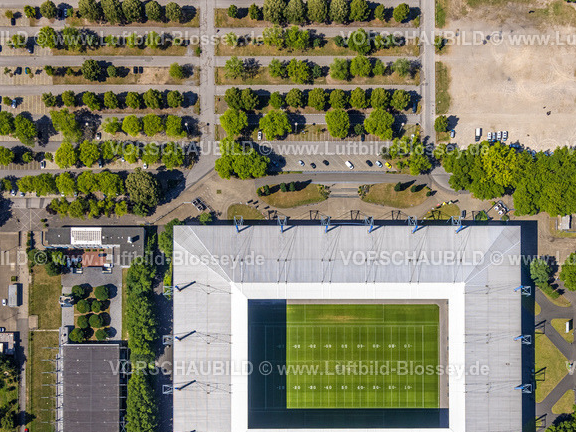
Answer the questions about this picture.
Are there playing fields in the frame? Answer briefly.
Yes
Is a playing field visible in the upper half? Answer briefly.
No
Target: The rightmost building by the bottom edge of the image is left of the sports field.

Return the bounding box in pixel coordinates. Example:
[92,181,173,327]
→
[41,344,128,432]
